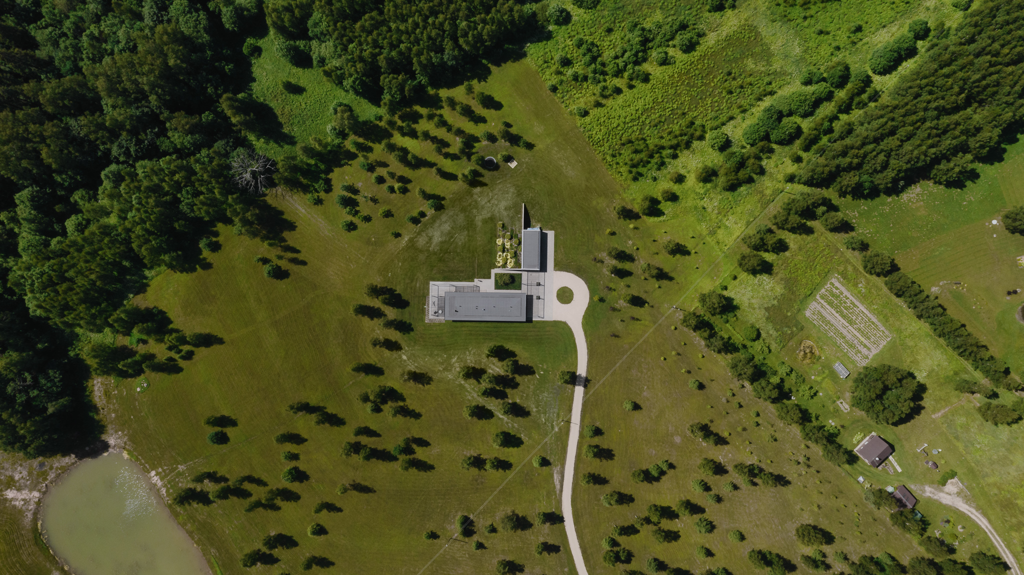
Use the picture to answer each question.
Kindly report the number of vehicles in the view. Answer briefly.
0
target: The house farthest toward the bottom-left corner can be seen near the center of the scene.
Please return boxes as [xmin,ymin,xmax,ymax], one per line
[445,292,526,320]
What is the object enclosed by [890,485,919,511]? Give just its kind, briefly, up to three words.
building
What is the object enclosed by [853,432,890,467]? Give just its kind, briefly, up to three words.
house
